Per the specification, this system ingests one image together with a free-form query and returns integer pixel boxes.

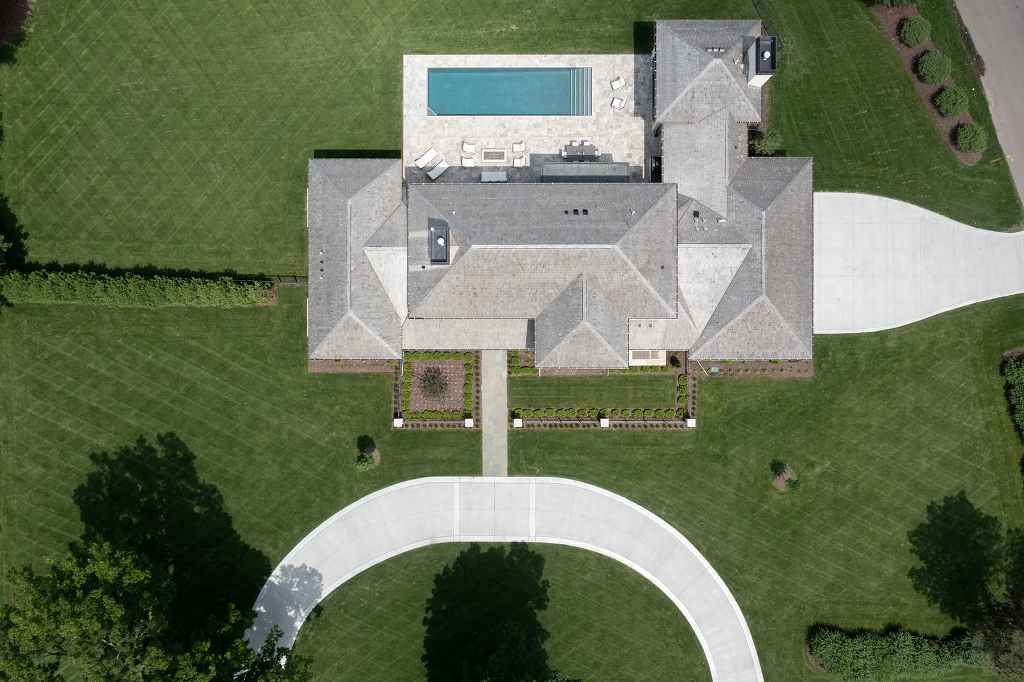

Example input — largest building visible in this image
[307,18,815,371]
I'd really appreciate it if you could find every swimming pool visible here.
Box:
[428,68,591,118]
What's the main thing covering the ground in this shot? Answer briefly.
grass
